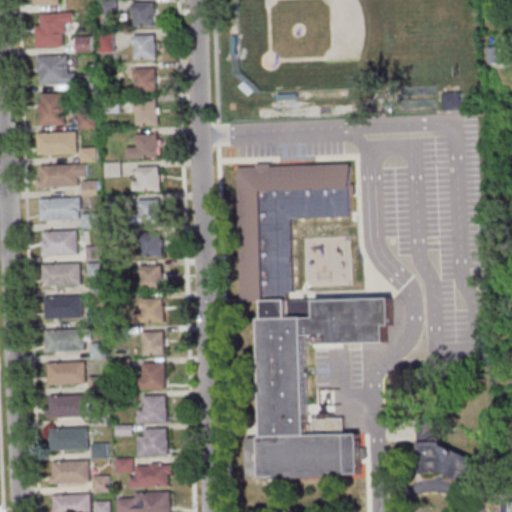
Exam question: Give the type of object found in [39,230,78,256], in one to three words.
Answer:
house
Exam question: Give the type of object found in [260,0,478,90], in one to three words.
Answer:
baseball field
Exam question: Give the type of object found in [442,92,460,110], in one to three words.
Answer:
shed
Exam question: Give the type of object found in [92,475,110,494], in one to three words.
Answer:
building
